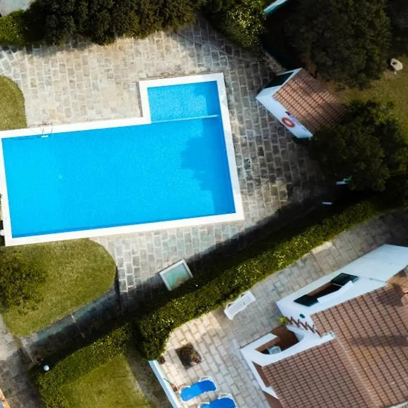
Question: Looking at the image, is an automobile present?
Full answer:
No, the frame has no automobile in it.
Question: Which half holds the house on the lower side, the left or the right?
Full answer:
It is on the right.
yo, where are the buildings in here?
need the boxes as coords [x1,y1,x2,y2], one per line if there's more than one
[255,69,347,135]
[239,243,408,408]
